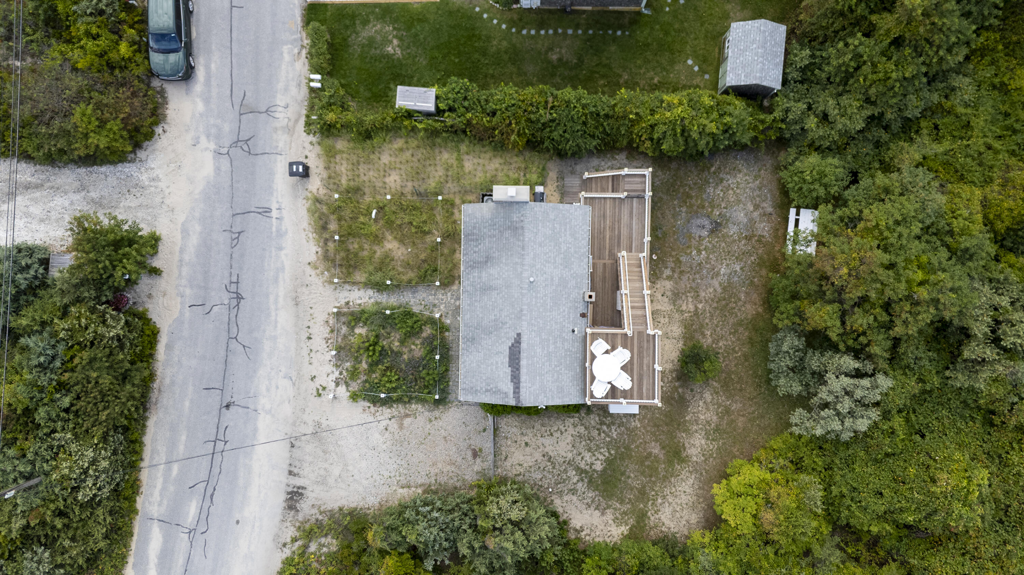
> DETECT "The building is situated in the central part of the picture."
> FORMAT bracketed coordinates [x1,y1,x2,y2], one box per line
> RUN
[456,185,595,409]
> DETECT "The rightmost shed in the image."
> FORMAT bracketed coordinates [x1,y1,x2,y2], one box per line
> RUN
[717,19,786,98]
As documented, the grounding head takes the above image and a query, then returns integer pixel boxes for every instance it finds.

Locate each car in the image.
[141,0,195,81]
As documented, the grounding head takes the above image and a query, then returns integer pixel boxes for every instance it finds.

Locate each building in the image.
[717,19,786,98]
[456,185,595,409]
[518,0,647,15]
